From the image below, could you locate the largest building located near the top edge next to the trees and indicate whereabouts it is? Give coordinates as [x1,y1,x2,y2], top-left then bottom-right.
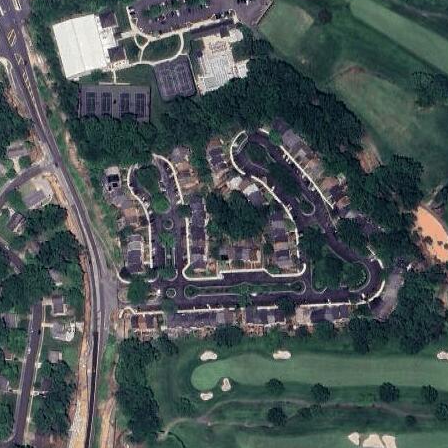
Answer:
[52,14,107,78]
